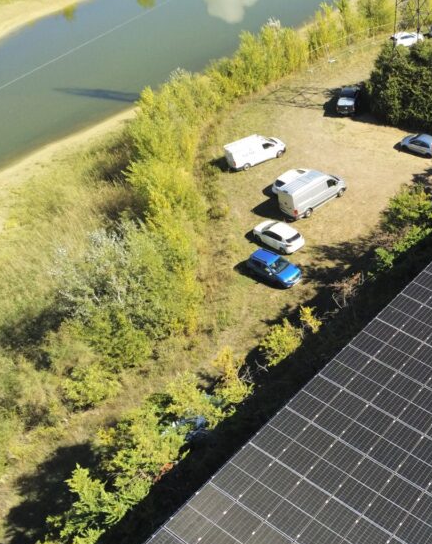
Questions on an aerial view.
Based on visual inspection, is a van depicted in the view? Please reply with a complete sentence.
Yes, the image includes a van.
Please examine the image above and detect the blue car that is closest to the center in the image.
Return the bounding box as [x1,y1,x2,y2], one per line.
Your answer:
[244,246,305,290]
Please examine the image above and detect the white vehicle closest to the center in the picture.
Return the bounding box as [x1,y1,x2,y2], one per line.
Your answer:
[249,222,310,257]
